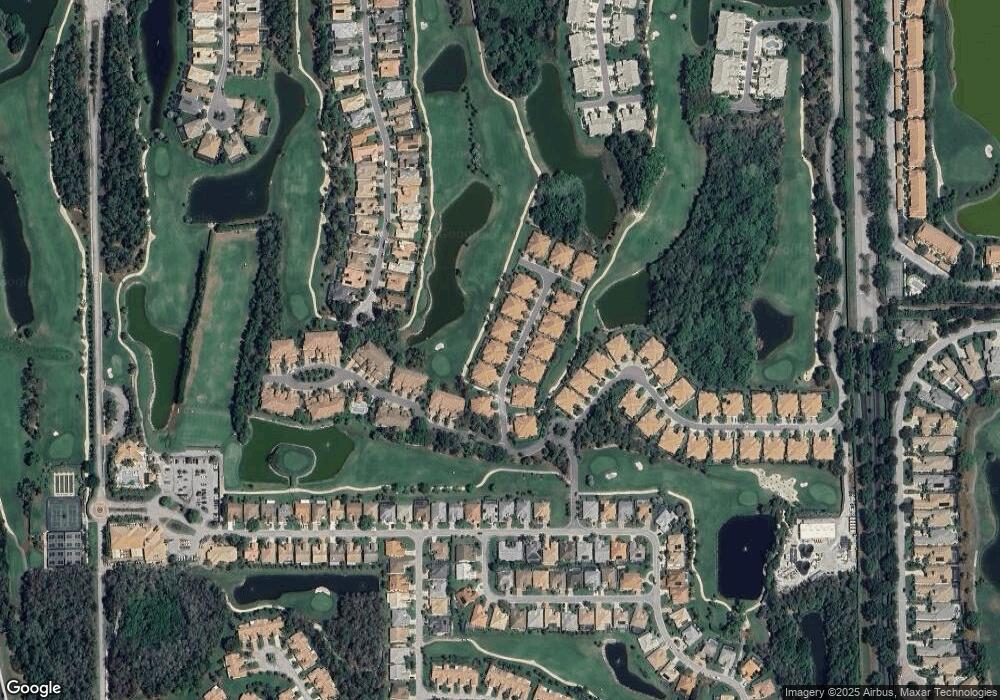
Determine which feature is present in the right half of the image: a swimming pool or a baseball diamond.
swimming pool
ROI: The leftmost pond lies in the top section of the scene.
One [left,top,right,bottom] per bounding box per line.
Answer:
[0,173,33,328]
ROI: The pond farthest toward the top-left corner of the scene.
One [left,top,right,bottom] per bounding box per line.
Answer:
[141,0,177,130]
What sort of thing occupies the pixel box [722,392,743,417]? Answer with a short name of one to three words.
house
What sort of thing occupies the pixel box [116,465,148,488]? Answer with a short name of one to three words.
swimming pool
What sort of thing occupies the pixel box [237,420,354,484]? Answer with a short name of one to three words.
pond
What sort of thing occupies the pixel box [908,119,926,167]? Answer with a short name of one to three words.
building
